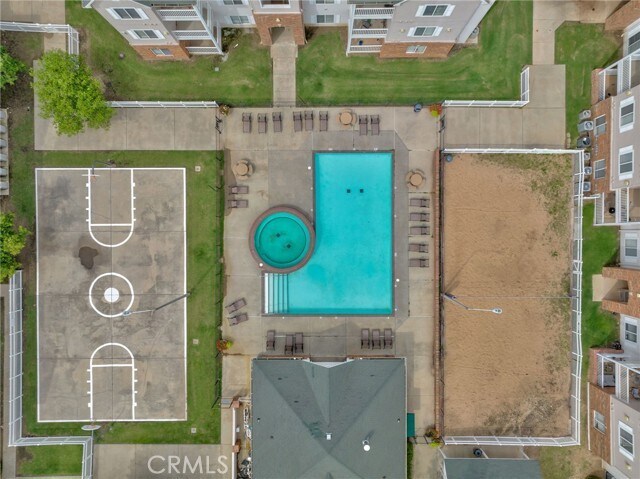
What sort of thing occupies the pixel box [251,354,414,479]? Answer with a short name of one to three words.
building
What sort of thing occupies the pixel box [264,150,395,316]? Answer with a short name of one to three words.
swimming pool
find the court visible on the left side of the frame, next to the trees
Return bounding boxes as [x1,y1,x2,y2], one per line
[35,167,188,421]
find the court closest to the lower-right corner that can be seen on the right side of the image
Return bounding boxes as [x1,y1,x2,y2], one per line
[443,151,574,438]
